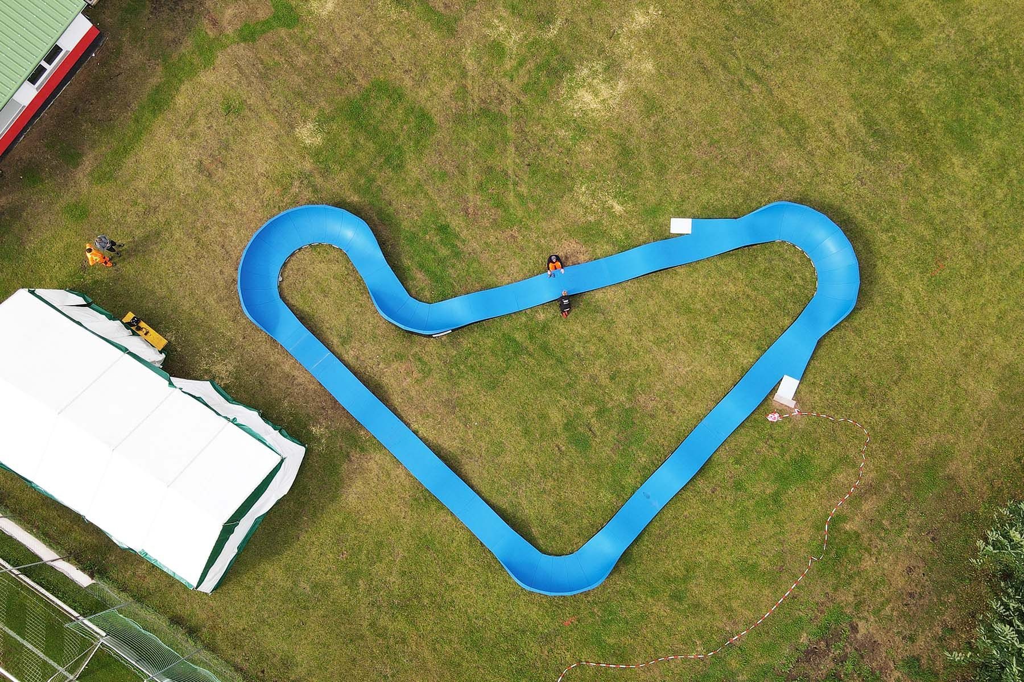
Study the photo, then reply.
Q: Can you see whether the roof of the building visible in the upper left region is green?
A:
Yes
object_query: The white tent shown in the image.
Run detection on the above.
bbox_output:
[0,287,307,595]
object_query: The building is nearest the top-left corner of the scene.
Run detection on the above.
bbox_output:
[0,0,100,154]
